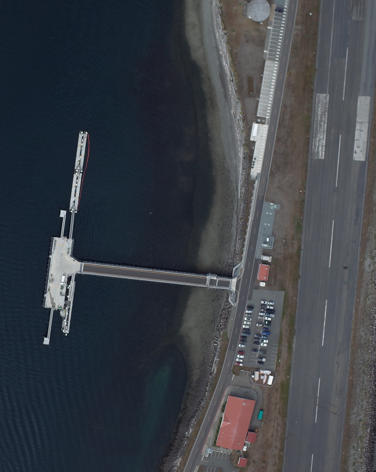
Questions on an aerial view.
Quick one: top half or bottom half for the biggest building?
bottom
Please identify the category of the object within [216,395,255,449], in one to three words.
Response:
building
